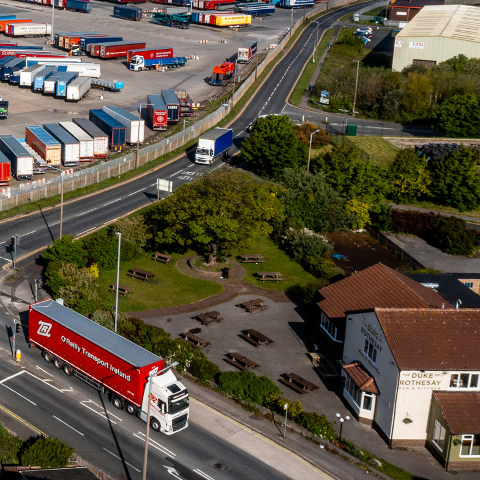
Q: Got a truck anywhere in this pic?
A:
Yes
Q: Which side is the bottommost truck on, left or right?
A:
left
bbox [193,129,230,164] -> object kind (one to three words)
truck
